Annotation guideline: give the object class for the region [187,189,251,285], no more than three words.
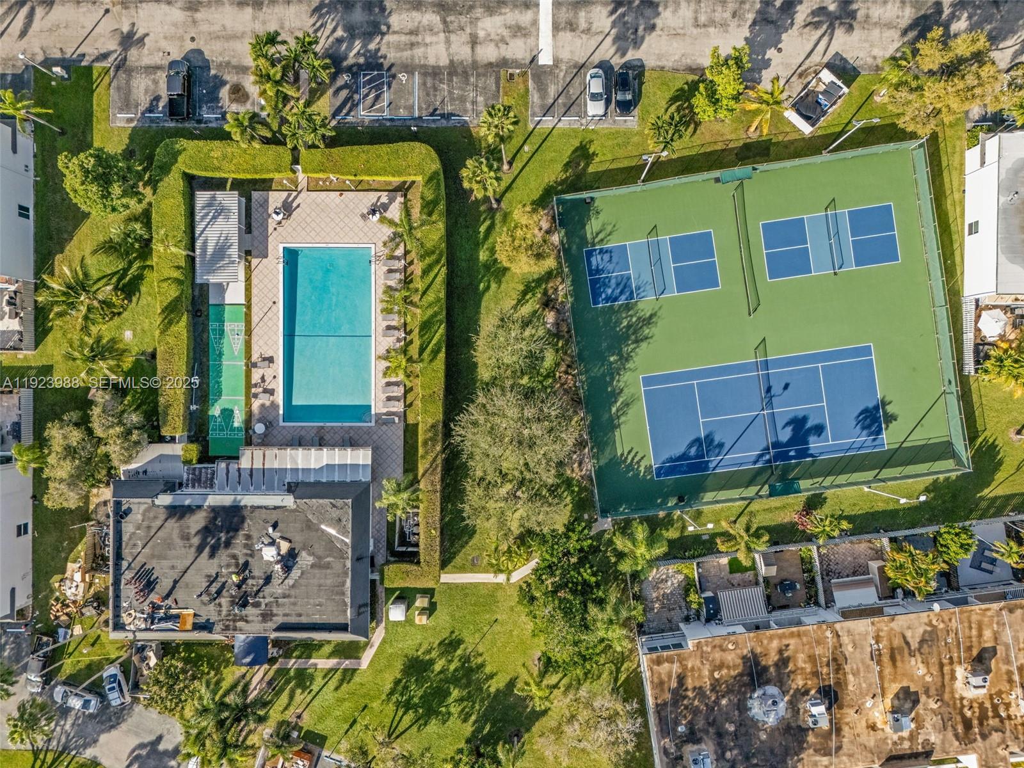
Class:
building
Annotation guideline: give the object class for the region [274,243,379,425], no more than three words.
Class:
swimming pool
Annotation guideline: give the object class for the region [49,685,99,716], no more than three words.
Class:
car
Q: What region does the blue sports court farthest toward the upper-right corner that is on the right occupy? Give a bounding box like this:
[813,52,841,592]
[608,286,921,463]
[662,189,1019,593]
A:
[760,203,901,281]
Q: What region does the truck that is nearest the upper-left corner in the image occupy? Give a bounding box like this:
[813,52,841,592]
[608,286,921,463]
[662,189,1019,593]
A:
[160,58,188,118]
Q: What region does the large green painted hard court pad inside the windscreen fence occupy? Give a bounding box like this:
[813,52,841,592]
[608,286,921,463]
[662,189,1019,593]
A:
[553,149,953,512]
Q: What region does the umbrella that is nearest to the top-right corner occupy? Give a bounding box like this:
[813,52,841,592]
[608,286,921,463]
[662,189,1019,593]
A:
[974,309,1008,342]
